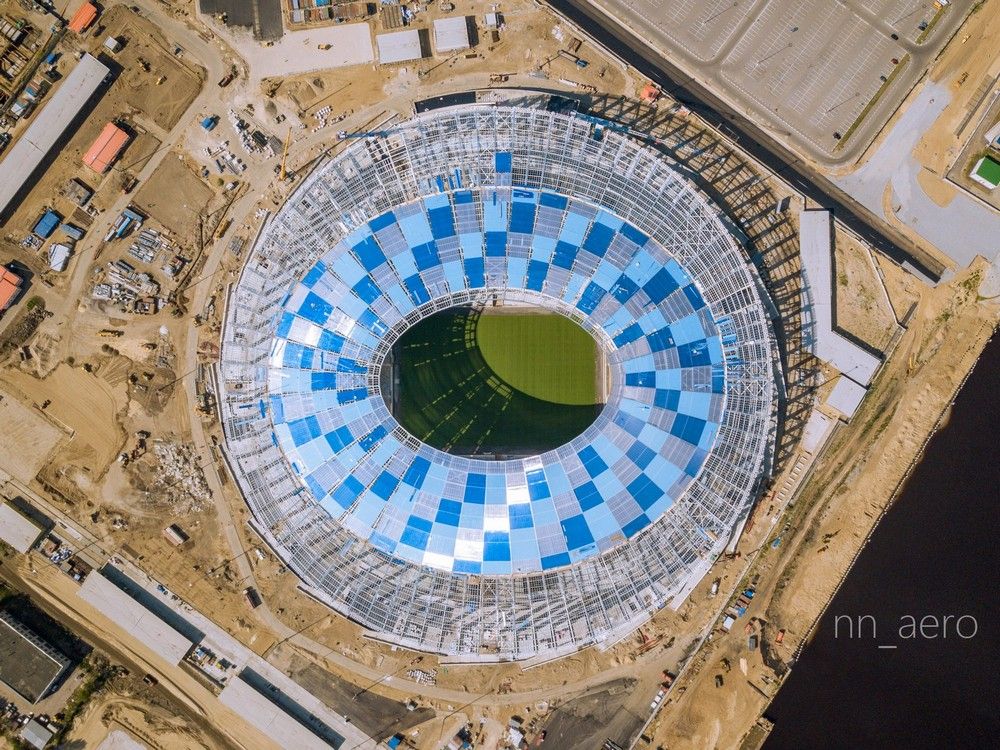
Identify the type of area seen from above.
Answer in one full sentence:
The picture captures a sports ground.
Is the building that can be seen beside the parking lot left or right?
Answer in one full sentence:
The building that can be seen beside the parking lot sits on the right side.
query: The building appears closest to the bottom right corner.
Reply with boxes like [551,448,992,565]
[823,376,867,418]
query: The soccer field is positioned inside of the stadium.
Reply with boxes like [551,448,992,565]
[387,307,606,453]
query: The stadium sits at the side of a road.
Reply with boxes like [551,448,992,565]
[215,93,789,671]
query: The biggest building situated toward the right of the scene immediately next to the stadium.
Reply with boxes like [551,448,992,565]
[797,210,881,379]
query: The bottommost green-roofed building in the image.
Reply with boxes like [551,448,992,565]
[964,145,1000,195]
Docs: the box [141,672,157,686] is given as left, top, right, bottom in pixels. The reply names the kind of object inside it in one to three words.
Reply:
vehicle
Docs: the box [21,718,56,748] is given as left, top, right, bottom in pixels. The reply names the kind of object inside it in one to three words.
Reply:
shed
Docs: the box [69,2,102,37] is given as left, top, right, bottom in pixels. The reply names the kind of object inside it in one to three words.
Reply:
house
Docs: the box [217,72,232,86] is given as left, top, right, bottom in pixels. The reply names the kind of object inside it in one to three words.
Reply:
vehicle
